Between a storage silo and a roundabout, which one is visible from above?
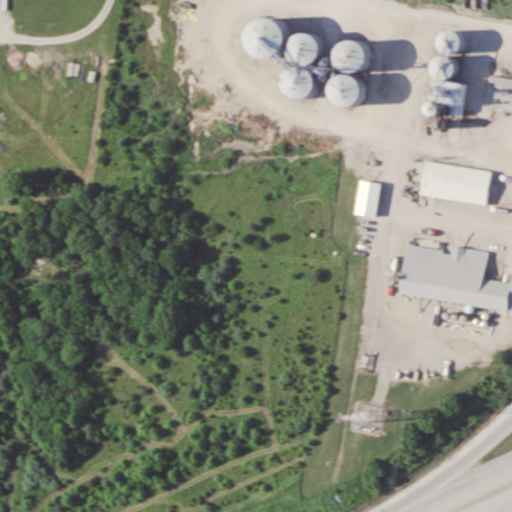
storage silo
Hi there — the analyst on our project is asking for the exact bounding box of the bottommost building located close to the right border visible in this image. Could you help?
[400,244,512,312]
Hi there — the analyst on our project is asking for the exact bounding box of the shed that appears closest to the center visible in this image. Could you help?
[354,180,382,218]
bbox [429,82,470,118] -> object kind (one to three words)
building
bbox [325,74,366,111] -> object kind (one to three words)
silo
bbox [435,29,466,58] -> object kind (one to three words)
silo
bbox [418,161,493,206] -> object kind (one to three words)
shed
